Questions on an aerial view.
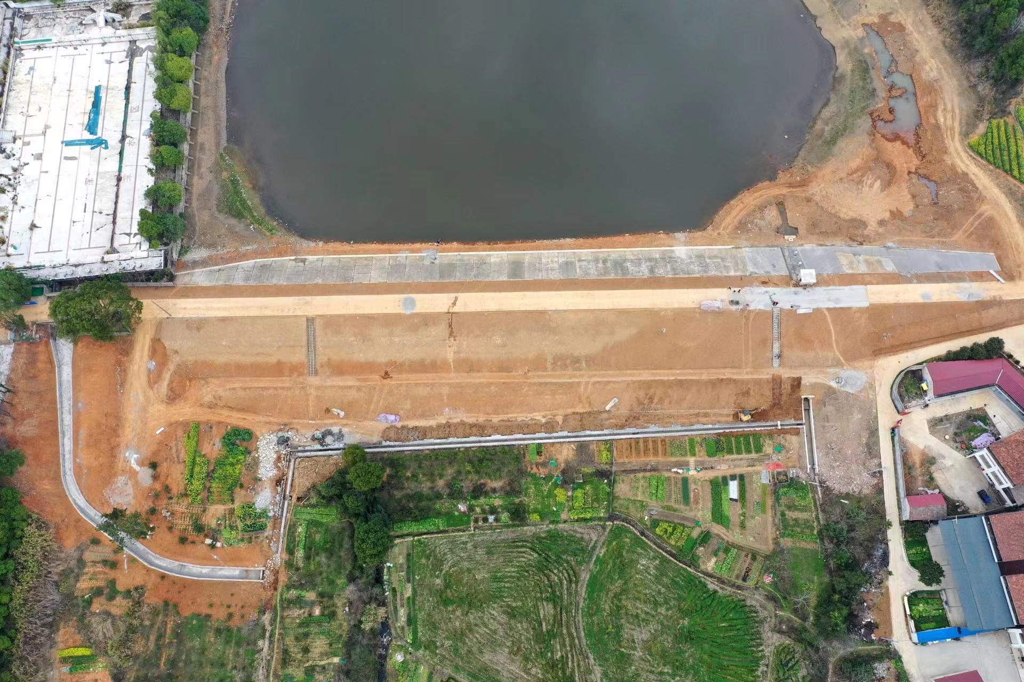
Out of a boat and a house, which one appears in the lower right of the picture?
house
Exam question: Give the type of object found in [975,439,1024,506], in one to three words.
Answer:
house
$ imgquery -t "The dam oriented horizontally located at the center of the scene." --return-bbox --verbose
[134,230,1024,447]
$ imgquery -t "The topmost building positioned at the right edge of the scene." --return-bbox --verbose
[924,358,1024,414]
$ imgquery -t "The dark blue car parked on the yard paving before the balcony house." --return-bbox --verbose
[977,487,994,505]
